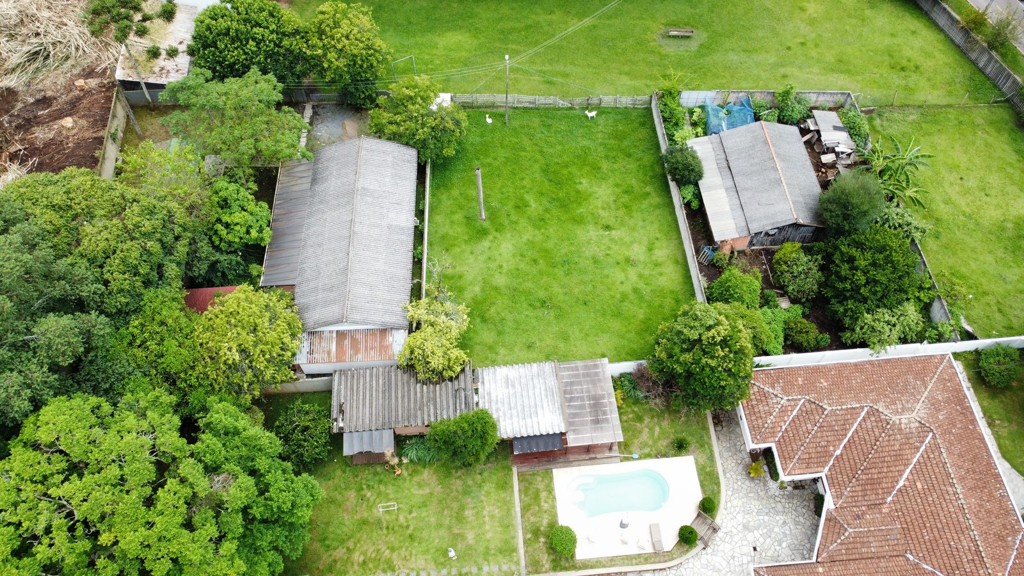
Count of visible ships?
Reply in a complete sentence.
The count of ships is 0.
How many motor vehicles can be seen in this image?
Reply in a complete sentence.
The picture shows no motor vehicles.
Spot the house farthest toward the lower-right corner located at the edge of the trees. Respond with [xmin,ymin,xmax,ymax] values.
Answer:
[728,351,1024,576]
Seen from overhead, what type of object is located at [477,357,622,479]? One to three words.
building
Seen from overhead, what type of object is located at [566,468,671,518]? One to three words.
swimming pool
